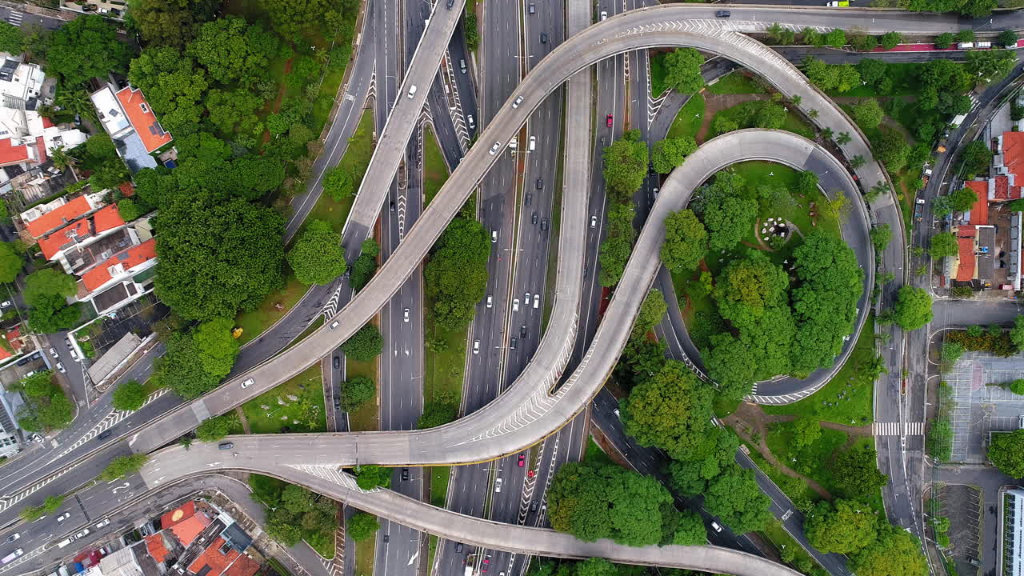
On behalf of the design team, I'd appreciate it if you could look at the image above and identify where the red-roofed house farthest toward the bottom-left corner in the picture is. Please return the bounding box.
[74,546,107,567]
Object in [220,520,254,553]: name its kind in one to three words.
house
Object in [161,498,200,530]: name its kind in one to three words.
house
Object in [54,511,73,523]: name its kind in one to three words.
vehicle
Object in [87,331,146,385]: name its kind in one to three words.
shed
